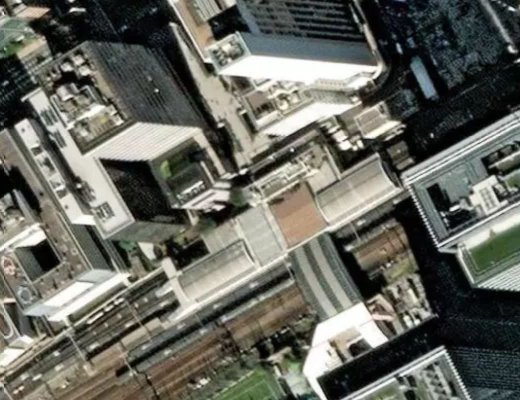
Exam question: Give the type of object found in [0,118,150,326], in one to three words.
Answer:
building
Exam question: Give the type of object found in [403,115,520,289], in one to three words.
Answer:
building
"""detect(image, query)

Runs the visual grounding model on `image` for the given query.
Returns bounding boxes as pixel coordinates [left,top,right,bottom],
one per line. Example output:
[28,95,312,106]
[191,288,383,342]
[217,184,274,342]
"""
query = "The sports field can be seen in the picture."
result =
[208,371,275,400]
